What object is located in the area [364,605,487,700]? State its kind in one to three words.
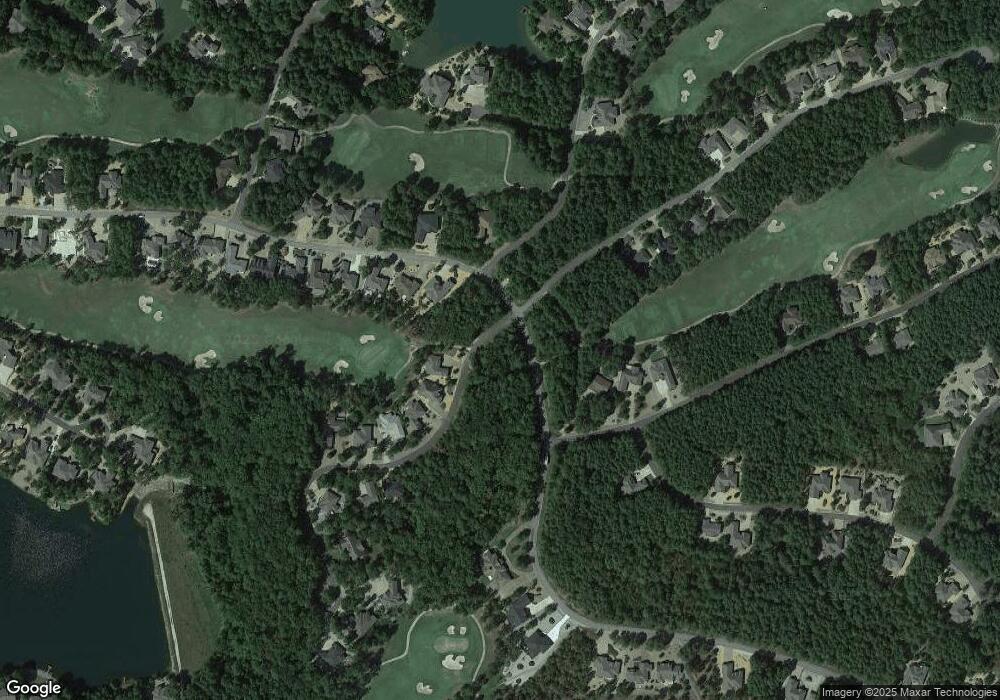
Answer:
golf course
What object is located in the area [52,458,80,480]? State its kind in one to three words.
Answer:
house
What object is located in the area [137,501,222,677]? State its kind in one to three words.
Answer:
dam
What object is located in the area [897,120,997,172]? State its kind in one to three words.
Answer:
pond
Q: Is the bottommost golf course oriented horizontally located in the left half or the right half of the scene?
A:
left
